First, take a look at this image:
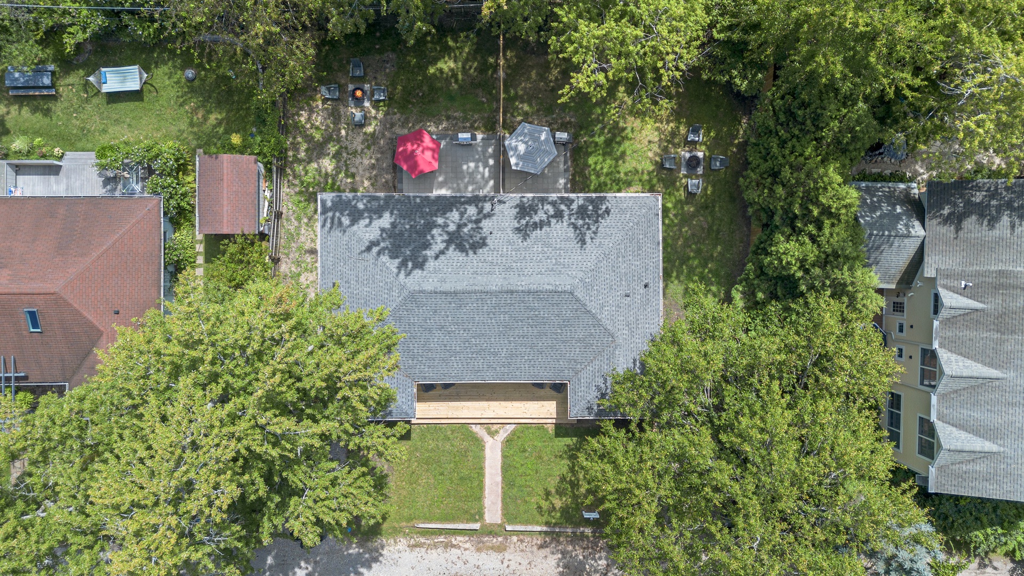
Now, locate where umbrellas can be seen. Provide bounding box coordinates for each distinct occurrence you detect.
[394,129,442,179]
[505,124,557,175]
